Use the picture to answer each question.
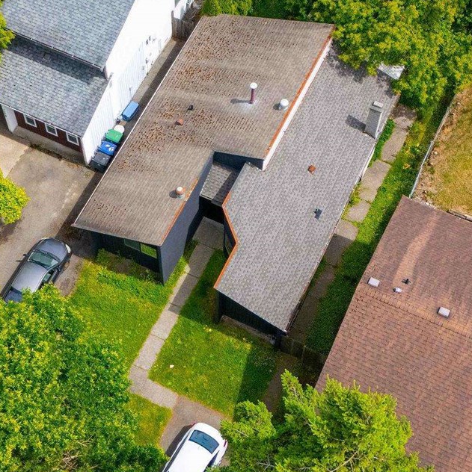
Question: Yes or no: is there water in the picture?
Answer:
No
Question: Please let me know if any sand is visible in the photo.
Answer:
No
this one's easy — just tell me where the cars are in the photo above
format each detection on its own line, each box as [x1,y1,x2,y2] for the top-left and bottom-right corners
[169,418,234,472]
[0,238,65,319]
